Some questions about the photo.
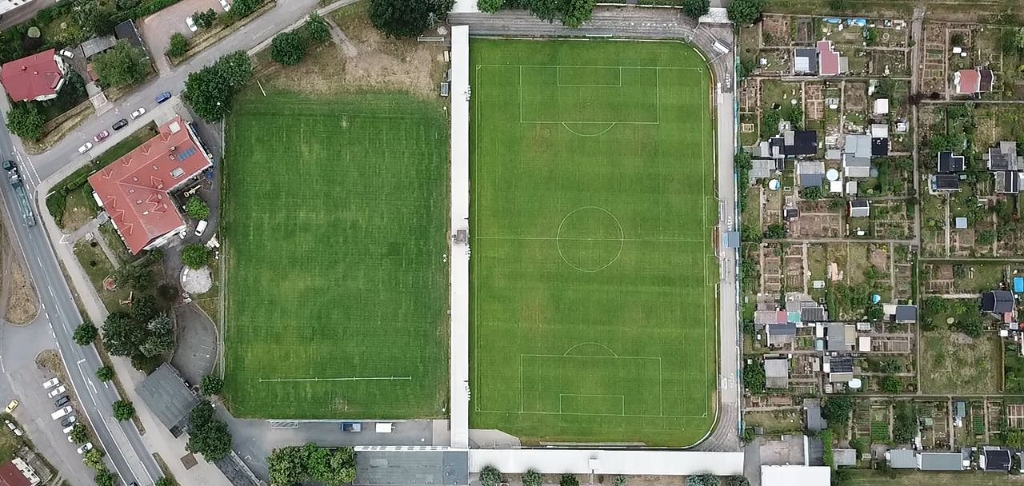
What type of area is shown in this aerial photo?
sports ground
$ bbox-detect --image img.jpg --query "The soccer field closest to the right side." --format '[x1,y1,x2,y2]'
[469,38,719,448]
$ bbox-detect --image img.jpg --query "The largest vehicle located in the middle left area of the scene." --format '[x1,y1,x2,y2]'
[3,163,36,228]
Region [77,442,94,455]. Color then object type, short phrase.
white vehicle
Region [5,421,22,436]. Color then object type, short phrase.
white car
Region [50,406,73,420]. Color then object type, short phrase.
white vehicle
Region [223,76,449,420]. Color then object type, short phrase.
green soccer field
